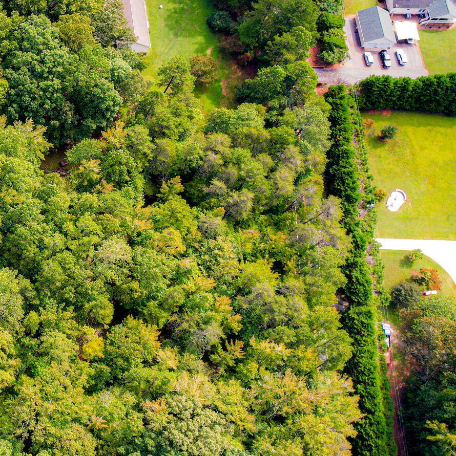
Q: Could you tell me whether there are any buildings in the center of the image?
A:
No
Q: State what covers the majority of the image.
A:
trees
